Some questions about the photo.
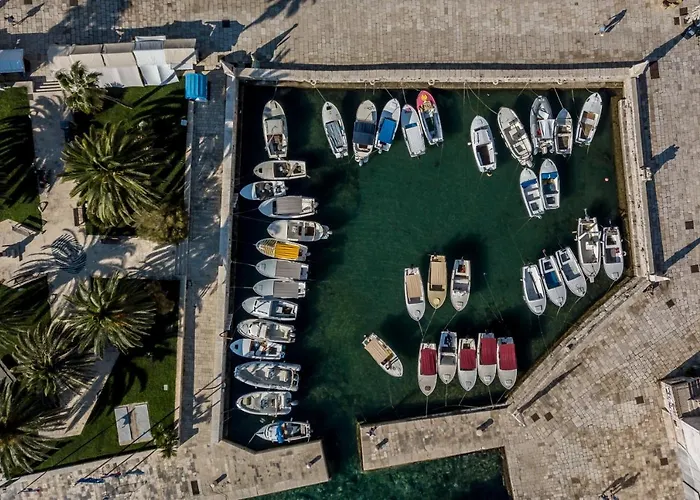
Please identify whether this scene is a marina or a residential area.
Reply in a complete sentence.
This image shows a marina.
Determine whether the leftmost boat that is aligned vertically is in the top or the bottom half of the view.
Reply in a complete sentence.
The leftmost boat that is aligned vertically sits in the top half of the picture.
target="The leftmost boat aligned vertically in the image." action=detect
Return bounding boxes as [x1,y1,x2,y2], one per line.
[262,100,289,161]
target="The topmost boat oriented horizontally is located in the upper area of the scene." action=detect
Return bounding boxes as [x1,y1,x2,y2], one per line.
[254,159,308,181]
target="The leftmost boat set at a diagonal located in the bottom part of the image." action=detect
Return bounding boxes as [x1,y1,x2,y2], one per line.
[363,332,402,376]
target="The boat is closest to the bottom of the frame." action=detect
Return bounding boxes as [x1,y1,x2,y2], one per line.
[256,417,314,445]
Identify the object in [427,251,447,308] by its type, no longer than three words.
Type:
boat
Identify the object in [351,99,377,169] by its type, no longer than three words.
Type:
boat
